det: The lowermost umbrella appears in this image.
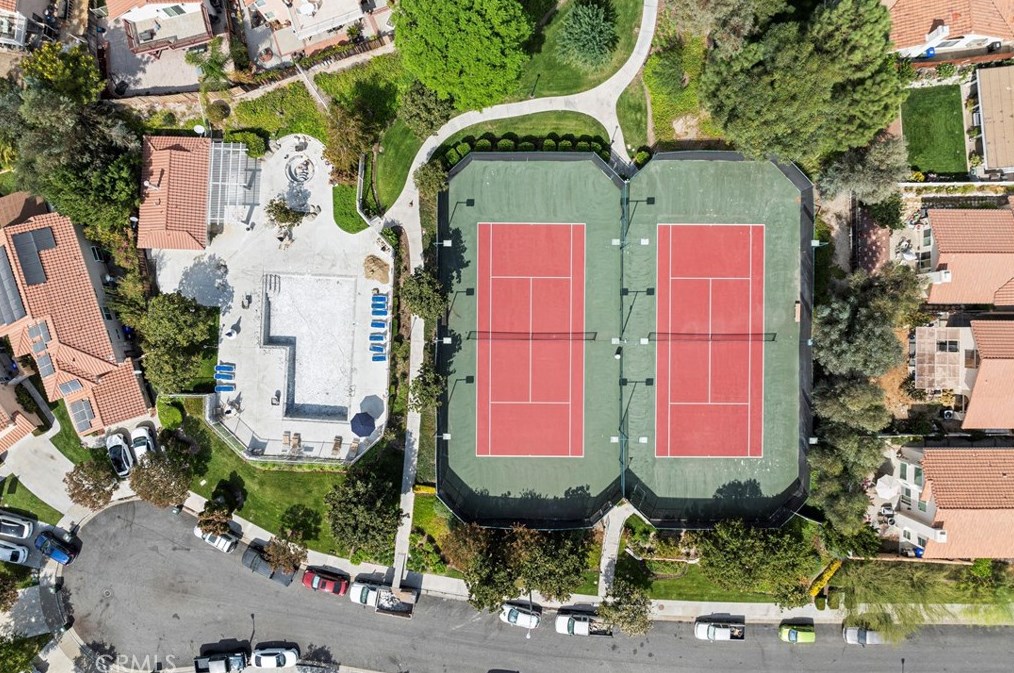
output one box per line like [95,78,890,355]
[872,474,897,498]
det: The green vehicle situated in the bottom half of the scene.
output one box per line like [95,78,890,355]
[777,622,816,645]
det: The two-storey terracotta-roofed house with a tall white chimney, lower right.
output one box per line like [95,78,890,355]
[893,442,1014,558]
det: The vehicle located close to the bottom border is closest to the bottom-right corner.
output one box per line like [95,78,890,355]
[840,623,890,647]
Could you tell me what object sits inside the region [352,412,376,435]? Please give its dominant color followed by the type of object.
blue umbrella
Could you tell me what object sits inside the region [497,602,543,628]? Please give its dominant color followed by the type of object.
white car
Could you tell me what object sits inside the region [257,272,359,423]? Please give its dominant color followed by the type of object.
white swimming pool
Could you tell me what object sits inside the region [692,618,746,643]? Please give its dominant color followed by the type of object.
white truck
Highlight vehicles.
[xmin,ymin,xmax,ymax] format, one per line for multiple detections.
[497,602,543,628]
[190,522,243,558]
[105,432,136,480]
[555,611,613,637]
[0,539,30,565]
[131,428,157,474]
[350,582,417,618]
[193,650,251,673]
[239,547,299,589]
[777,622,816,645]
[692,618,746,643]
[840,623,890,647]
[301,567,352,595]
[33,529,79,567]
[251,644,300,670]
